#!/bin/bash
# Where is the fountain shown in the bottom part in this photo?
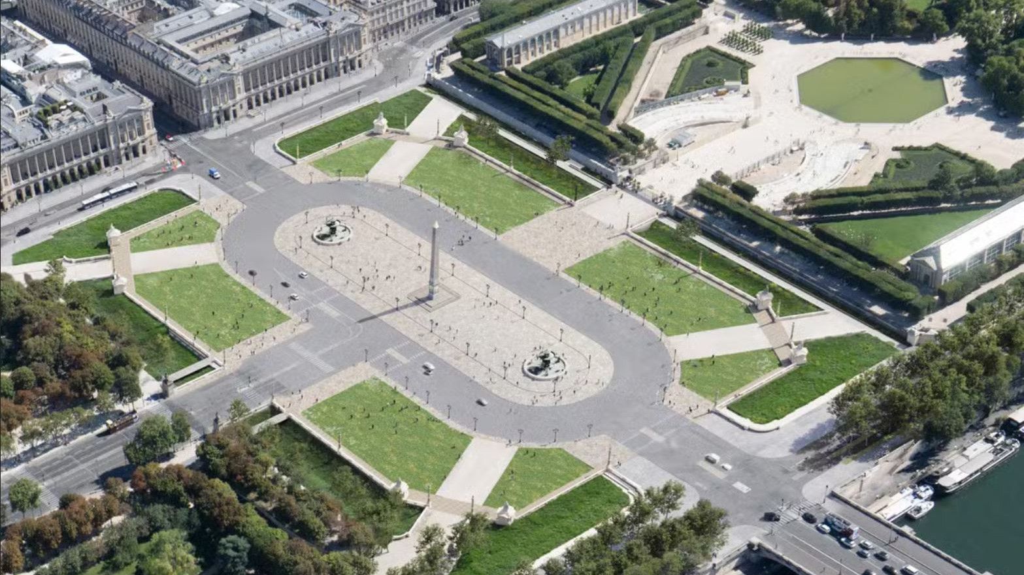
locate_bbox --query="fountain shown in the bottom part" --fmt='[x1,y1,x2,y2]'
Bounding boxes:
[522,347,567,380]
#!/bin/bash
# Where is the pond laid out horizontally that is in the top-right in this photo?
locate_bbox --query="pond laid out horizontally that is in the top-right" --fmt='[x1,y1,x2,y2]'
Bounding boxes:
[793,55,950,124]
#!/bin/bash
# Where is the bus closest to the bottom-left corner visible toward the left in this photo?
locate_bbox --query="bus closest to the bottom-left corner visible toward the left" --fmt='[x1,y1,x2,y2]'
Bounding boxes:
[104,407,138,433]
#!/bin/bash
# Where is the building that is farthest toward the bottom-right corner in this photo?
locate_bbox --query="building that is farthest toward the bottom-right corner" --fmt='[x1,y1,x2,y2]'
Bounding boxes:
[791,343,808,369]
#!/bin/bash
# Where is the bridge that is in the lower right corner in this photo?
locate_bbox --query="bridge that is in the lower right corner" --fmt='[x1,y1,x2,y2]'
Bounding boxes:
[746,487,977,575]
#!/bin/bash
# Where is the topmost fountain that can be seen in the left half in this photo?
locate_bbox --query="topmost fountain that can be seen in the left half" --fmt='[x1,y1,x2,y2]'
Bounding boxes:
[312,215,352,244]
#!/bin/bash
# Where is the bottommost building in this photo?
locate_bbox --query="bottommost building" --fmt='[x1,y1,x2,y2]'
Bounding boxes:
[496,501,515,530]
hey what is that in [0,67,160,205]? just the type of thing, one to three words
building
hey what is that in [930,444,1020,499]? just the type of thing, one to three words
boat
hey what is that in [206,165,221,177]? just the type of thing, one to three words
vehicle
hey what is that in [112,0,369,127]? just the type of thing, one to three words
building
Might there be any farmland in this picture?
No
